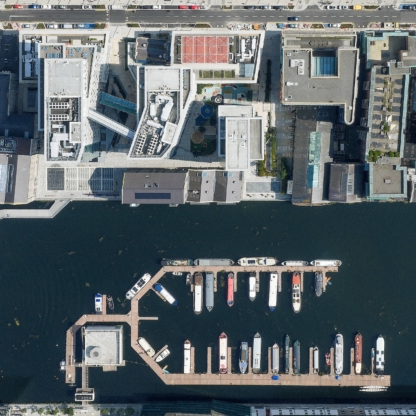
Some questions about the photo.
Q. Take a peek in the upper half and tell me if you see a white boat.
No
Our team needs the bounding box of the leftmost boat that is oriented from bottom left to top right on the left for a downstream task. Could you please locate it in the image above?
[127,274,150,299]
